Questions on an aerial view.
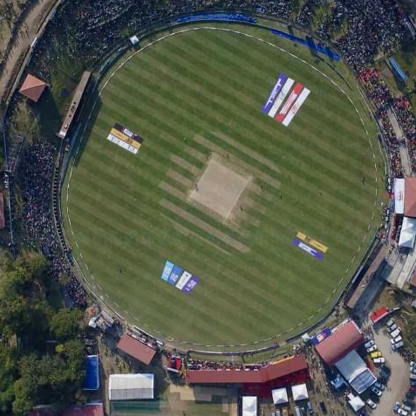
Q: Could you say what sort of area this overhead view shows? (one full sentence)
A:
The picture captures a sports ground.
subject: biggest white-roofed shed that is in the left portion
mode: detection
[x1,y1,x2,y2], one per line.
[109,372,154,400]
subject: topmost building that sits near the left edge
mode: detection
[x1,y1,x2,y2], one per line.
[19,75,49,101]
